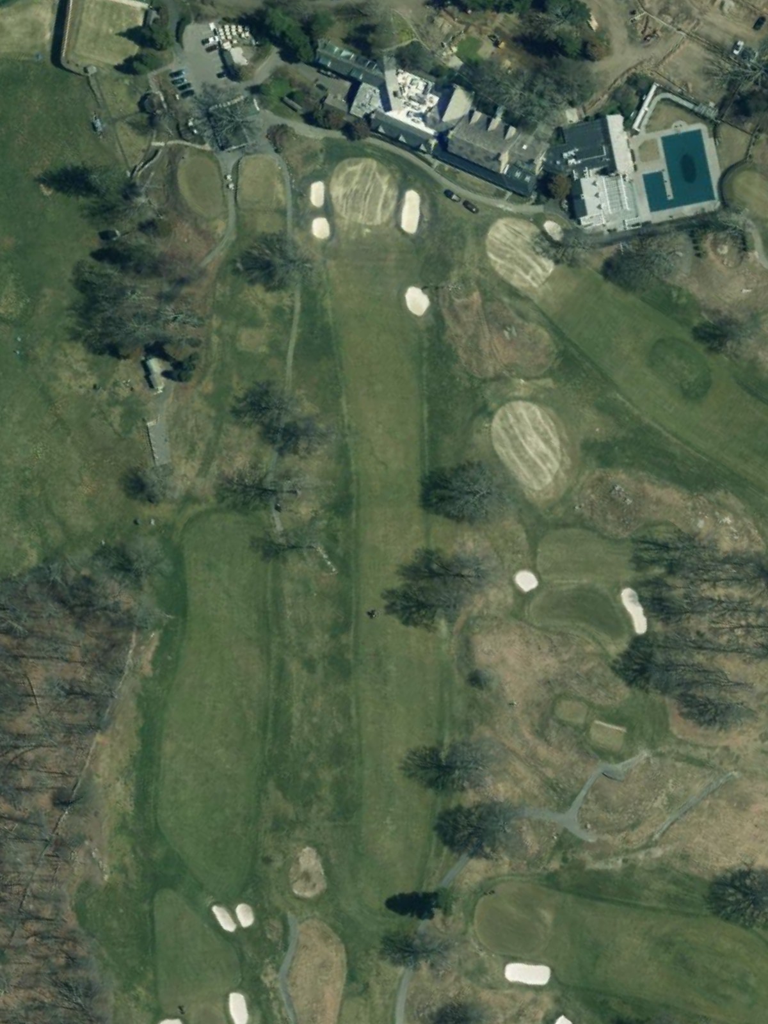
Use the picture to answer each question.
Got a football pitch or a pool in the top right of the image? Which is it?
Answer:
pool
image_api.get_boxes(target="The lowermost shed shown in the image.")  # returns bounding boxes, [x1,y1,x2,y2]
[148,357,164,395]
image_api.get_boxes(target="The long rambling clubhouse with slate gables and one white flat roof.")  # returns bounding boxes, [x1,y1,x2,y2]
[315,39,549,196]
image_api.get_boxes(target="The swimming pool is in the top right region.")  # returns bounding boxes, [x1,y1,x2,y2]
[629,121,722,224]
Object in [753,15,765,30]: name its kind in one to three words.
vehicle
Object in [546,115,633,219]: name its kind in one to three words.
building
